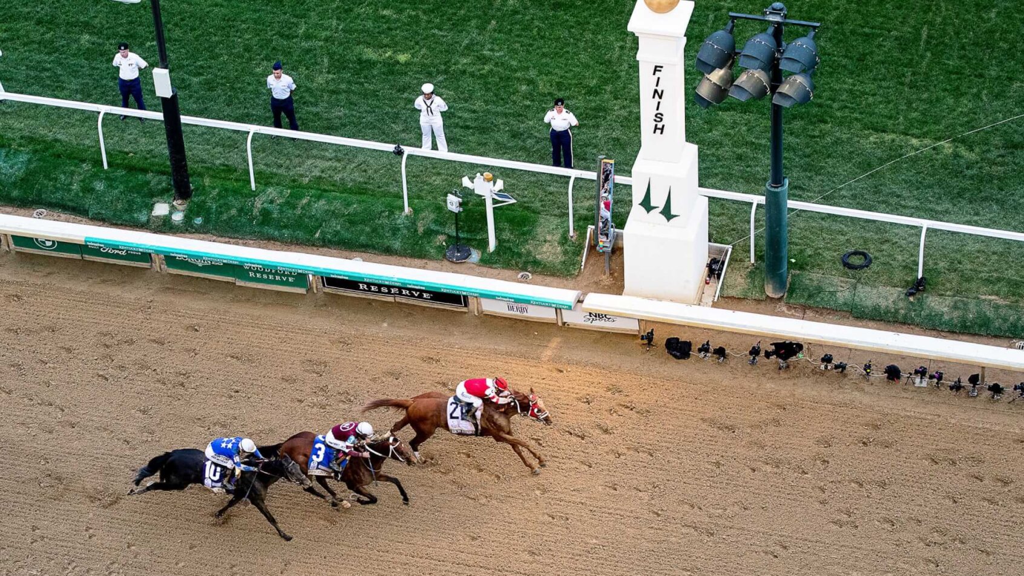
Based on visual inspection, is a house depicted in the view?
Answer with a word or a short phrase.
No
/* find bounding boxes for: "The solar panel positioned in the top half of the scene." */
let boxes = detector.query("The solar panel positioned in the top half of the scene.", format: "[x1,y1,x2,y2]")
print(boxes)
[491,189,513,207]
